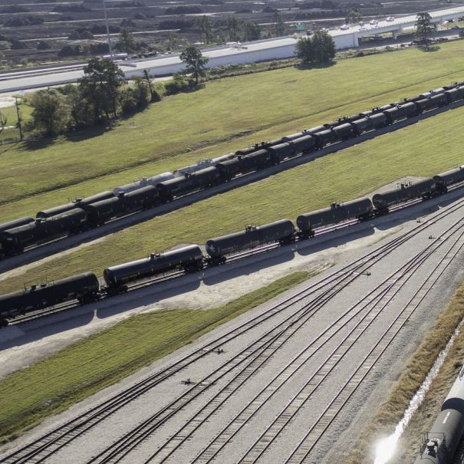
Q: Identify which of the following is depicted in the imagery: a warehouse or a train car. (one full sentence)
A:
This aerial view contains a train car.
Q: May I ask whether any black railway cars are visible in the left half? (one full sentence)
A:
Yes, a black railway car can be seen in the left half.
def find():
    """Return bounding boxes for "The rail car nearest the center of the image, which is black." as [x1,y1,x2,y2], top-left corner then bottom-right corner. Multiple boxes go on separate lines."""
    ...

[204,213,299,259]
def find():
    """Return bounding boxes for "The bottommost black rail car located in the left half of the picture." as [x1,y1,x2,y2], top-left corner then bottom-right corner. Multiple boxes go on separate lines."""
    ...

[0,265,104,319]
